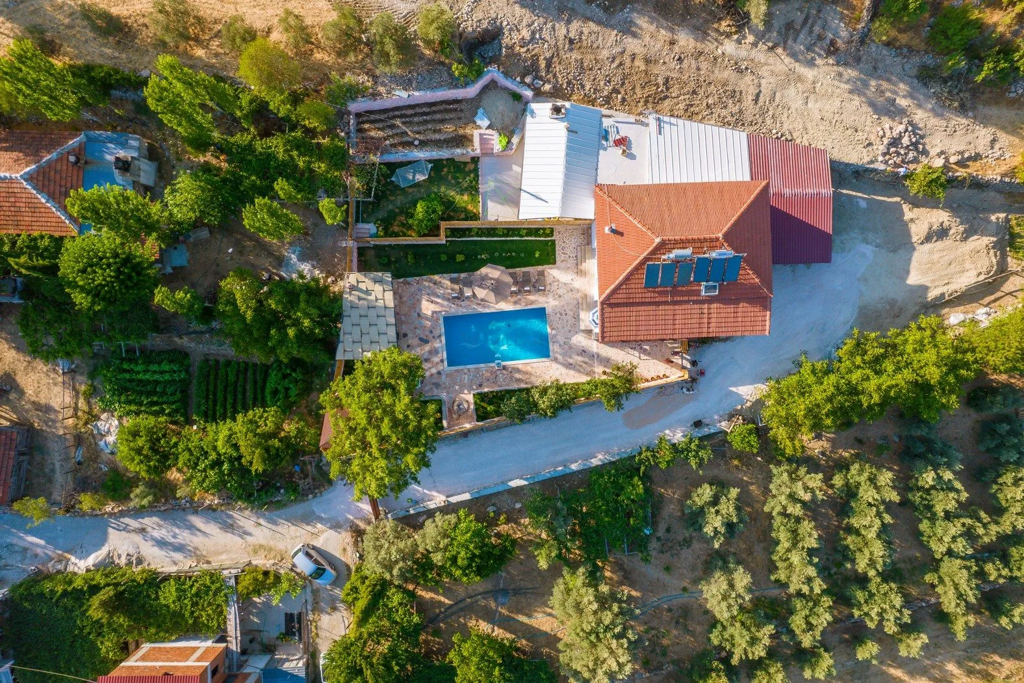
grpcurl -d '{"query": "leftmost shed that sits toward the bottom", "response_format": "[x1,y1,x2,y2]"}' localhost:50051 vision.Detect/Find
[0,425,38,507]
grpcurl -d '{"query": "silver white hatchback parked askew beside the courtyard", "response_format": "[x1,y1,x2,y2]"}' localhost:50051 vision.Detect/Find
[289,543,337,585]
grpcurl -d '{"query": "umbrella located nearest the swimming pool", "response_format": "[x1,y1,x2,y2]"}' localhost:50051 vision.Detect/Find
[472,263,513,304]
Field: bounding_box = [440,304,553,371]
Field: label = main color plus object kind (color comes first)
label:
blue swimming pool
